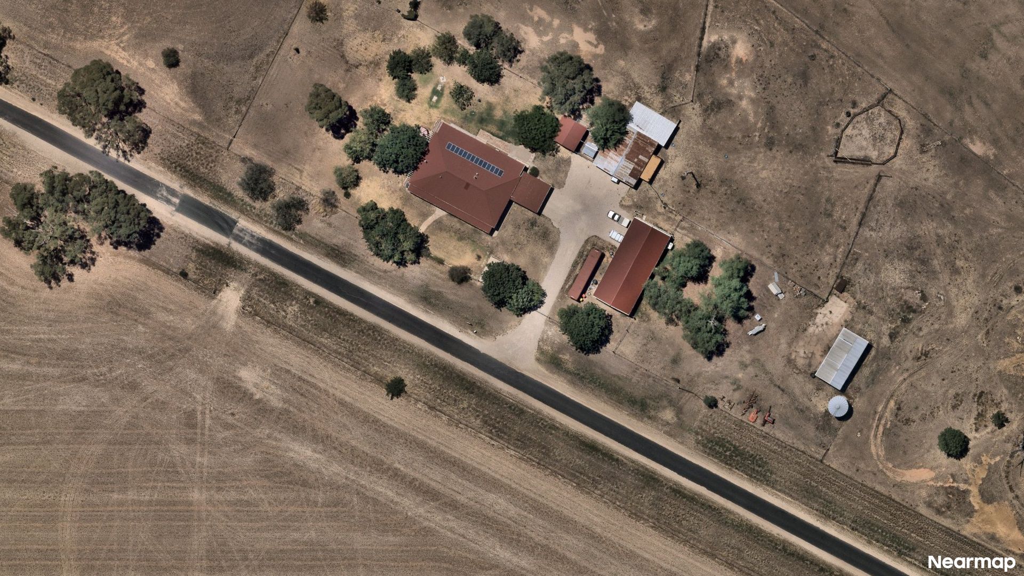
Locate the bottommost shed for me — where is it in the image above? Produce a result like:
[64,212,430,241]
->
[815,327,869,390]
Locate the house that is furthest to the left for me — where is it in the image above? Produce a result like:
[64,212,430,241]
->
[404,120,525,237]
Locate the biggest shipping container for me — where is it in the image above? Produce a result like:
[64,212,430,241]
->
[568,248,602,300]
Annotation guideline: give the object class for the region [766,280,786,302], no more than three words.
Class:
vehicle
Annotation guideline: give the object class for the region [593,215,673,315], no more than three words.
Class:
shed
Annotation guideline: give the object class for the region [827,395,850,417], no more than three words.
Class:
silo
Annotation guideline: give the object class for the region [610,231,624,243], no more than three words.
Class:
vehicle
